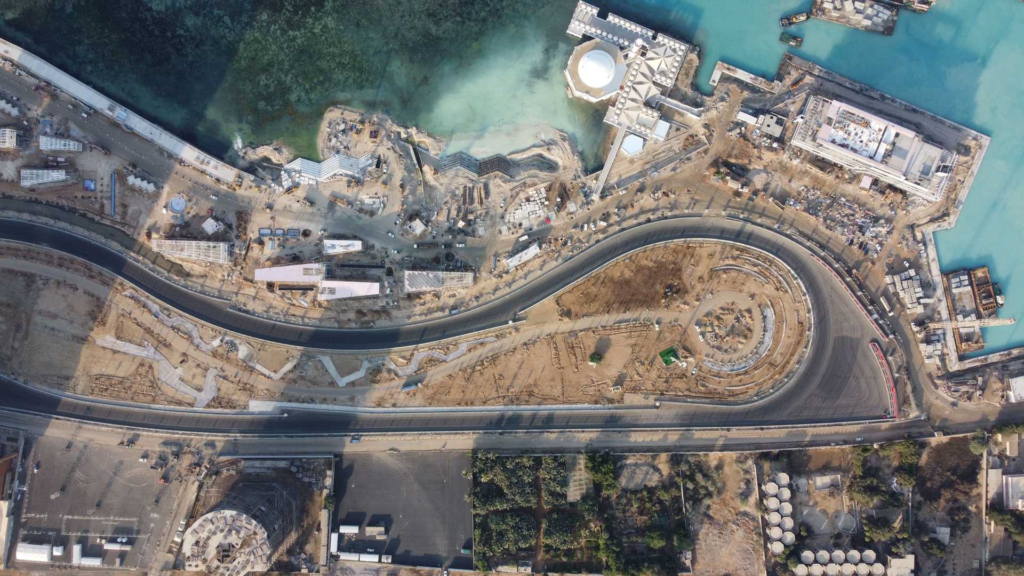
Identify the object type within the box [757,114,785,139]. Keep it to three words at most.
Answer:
building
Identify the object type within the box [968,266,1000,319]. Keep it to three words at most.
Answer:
ship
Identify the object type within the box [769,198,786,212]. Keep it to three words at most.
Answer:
vehicle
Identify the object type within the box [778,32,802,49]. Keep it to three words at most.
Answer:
vessel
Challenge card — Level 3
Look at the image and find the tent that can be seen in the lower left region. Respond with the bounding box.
[15,542,55,562]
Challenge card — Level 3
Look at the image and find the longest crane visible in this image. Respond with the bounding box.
[906,319,1017,342]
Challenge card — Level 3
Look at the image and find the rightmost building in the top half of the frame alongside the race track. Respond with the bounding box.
[783,94,959,207]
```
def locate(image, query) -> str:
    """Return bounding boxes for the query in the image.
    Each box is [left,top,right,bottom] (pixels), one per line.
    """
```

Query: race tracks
[0,216,902,435]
